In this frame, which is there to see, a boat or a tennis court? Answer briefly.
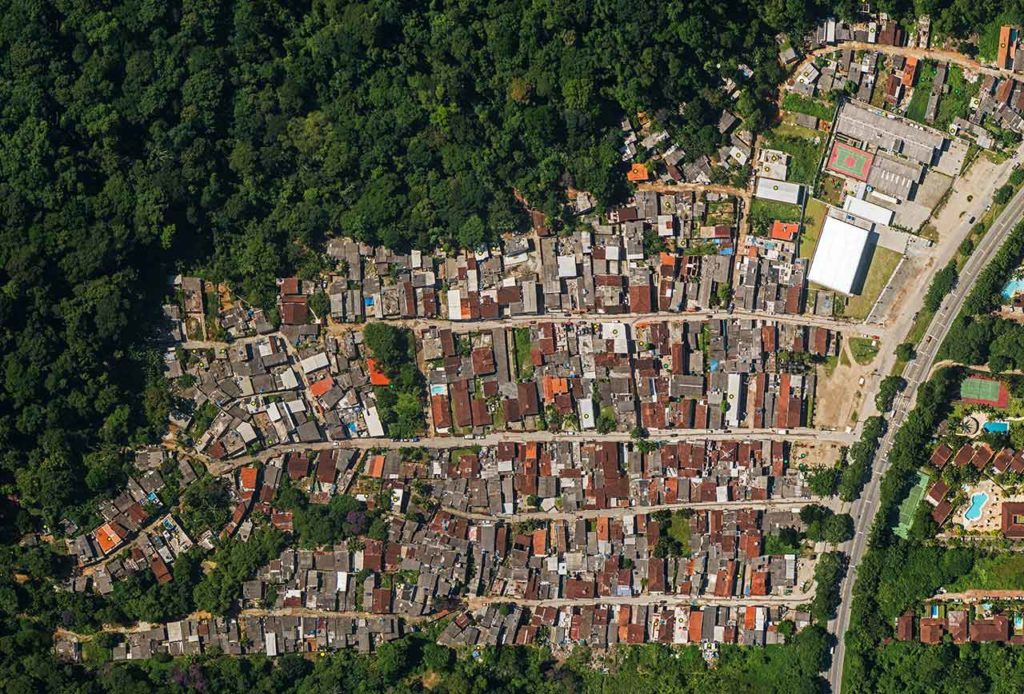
tennis court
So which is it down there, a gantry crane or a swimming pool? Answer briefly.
swimming pool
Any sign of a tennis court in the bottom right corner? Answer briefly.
Yes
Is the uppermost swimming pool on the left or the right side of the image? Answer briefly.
right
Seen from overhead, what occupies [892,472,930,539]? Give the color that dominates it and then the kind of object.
green tennis court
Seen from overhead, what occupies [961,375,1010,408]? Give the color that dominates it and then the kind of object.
green tennis court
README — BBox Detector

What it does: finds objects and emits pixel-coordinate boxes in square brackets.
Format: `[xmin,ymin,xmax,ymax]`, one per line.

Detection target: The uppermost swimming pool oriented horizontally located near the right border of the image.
[982,421,1011,434]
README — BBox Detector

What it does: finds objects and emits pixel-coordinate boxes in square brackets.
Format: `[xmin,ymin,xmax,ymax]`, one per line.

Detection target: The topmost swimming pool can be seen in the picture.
[1001,279,1024,299]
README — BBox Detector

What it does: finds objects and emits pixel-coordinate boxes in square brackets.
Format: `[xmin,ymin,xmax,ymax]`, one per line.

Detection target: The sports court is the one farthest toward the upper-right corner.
[828,141,871,179]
